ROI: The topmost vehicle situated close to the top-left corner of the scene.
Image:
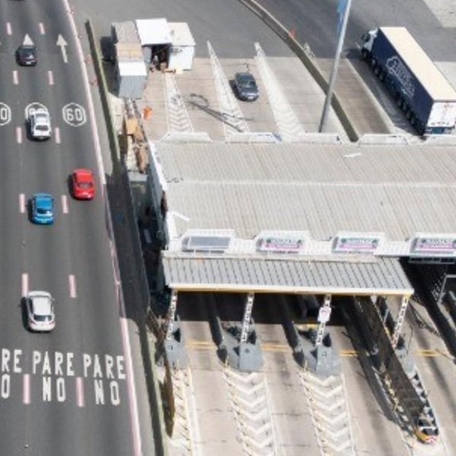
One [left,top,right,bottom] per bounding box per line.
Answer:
[16,44,38,65]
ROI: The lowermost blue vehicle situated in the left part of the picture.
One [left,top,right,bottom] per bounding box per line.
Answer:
[29,189,57,220]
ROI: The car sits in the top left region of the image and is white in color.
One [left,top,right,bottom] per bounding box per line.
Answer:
[29,109,53,136]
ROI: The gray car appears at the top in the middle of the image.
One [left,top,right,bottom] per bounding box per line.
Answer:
[237,69,262,97]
